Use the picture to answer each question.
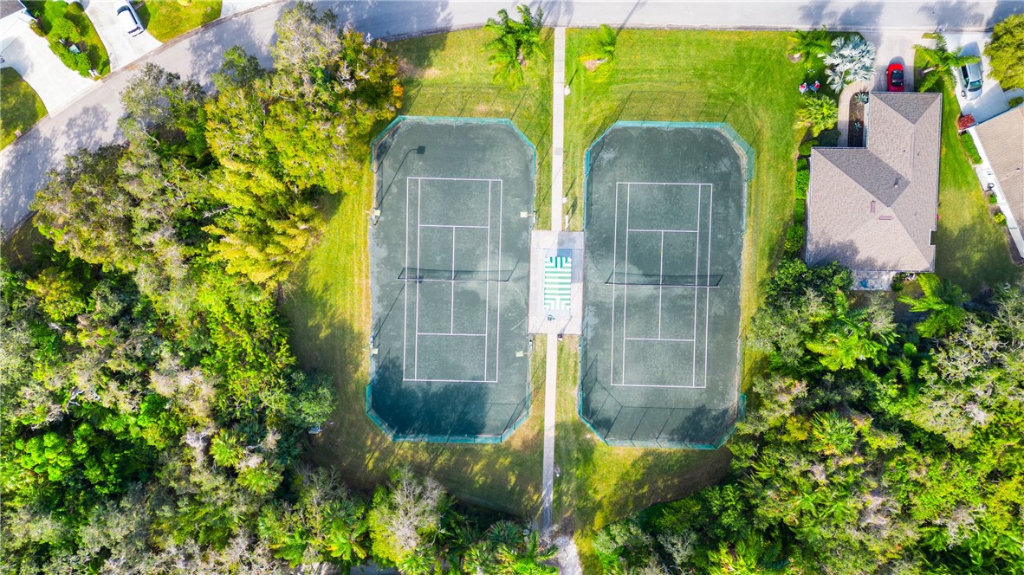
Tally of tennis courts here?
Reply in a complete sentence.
In total, there are 2 tennis courts in the scene.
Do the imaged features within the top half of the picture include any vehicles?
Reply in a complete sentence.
Yes, a vehicle shows up within the top half of the picture.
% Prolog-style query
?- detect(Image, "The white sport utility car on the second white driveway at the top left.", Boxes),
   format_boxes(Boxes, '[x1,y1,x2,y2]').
[111,0,144,38]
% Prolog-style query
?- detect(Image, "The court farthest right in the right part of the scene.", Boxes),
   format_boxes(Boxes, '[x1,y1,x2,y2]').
[578,128,746,442]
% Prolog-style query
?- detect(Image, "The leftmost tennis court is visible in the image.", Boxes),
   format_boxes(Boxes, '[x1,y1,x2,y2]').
[371,122,534,437]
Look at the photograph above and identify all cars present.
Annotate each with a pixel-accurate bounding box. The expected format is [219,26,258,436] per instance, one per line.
[956,52,984,97]
[886,63,908,91]
[111,0,144,38]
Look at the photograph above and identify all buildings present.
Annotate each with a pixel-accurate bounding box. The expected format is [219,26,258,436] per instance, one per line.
[0,0,33,30]
[969,103,1024,250]
[801,90,943,274]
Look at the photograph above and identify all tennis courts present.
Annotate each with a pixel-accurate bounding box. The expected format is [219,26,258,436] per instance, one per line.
[578,128,746,442]
[371,122,534,437]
